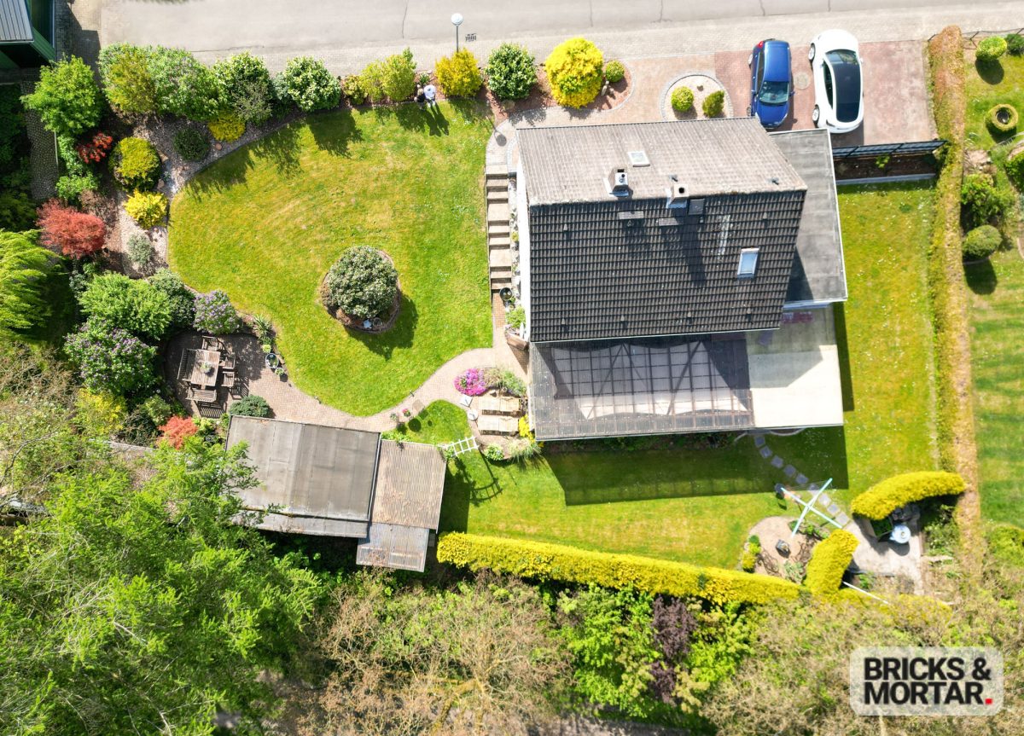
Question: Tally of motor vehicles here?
2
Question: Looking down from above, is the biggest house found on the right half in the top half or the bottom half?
top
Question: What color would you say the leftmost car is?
blue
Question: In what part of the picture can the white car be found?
top right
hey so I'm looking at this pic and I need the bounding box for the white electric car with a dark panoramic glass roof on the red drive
[805,30,866,136]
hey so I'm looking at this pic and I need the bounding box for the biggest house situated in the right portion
[517,111,810,347]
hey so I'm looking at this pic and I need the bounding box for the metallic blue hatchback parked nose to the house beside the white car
[742,39,796,131]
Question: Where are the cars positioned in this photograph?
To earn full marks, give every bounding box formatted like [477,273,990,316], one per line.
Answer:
[805,30,866,136]
[742,39,796,131]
